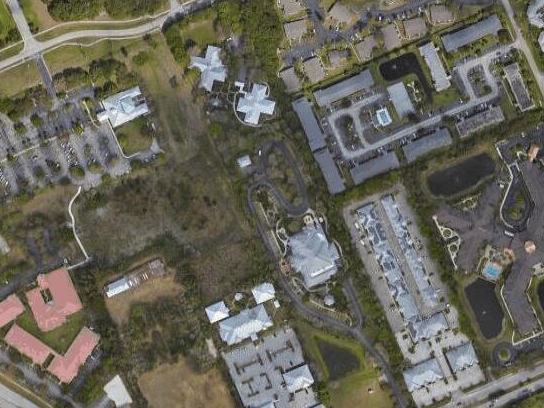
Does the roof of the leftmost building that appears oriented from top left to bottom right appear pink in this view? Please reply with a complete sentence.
Yes, pink is the color of the roof of the leftmost building that appears oriented from top left to bottom right.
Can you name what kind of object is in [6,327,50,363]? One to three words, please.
building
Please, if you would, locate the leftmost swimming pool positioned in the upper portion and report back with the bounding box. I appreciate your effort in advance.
[377,108,391,126]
